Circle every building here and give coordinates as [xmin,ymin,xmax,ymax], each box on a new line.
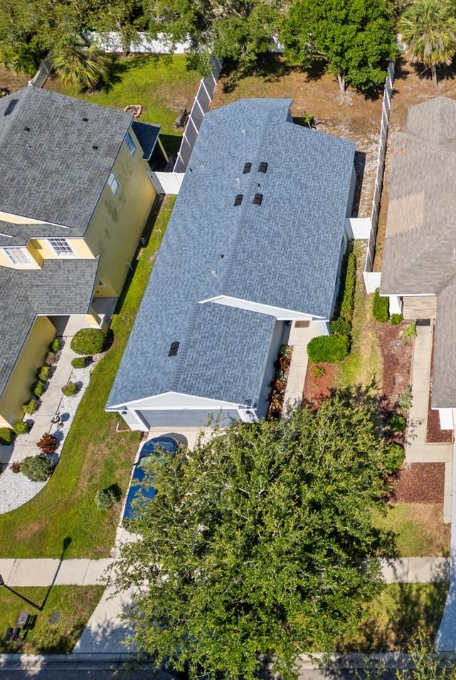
[106,97,357,427]
[376,97,456,427]
[0,89,175,429]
